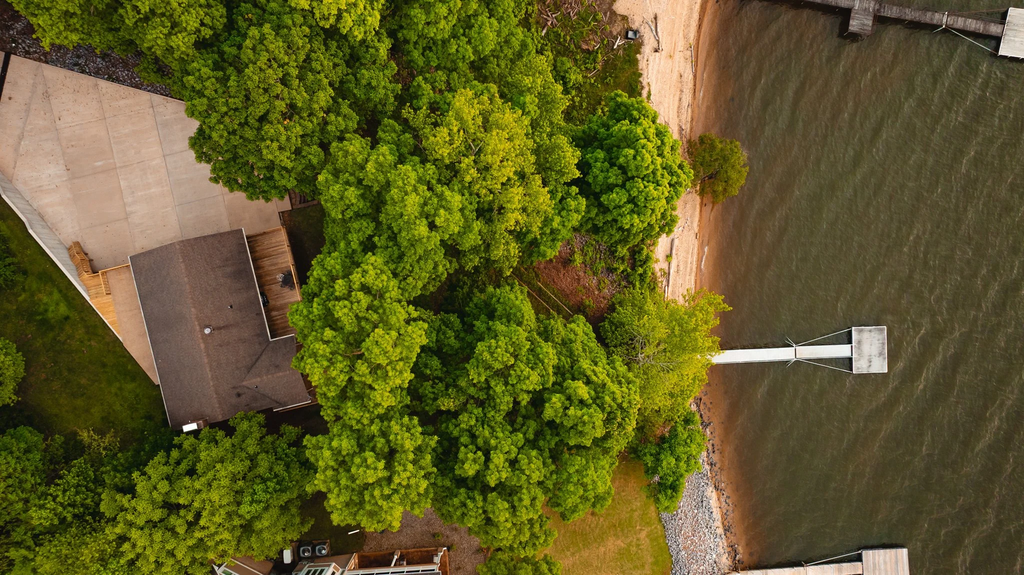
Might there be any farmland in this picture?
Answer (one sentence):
No, there's no farmland in this view.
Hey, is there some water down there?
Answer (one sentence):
Yes, some water is visible.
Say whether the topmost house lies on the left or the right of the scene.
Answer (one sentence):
You can find the topmost house on the left side of the picture.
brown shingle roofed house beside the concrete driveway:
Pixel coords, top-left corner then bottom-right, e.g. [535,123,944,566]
[128,229,312,433]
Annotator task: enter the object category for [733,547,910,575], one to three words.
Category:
pier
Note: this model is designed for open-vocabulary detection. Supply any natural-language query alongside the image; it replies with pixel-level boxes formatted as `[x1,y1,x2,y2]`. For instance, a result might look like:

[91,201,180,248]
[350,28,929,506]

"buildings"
[193,539,450,575]
[128,229,312,433]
